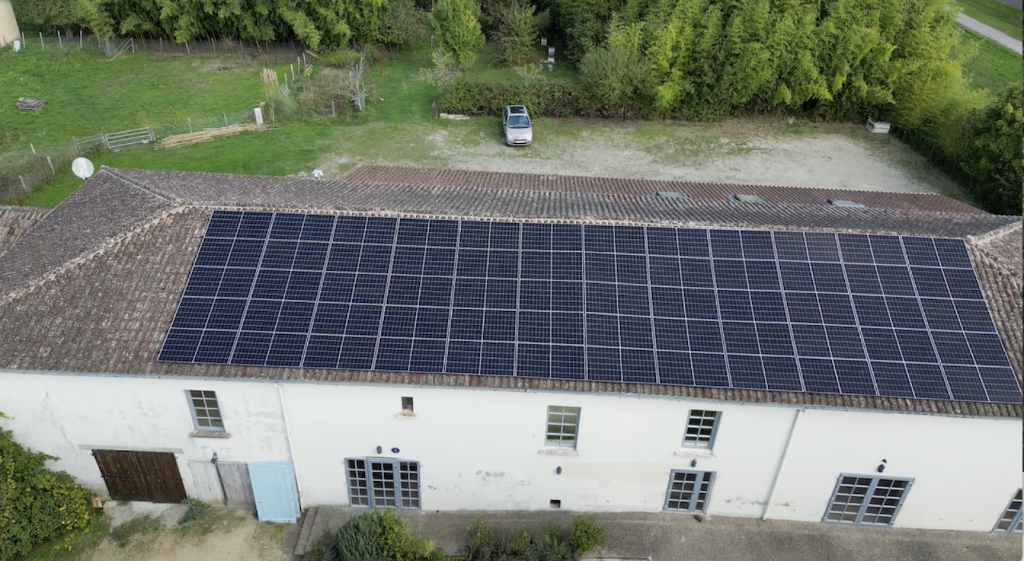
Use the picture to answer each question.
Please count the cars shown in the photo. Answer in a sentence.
The photo contains exactly 1 car.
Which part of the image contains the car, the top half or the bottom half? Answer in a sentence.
It is in the top half that the car appears.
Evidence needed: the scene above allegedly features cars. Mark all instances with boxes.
[502,107,534,146]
